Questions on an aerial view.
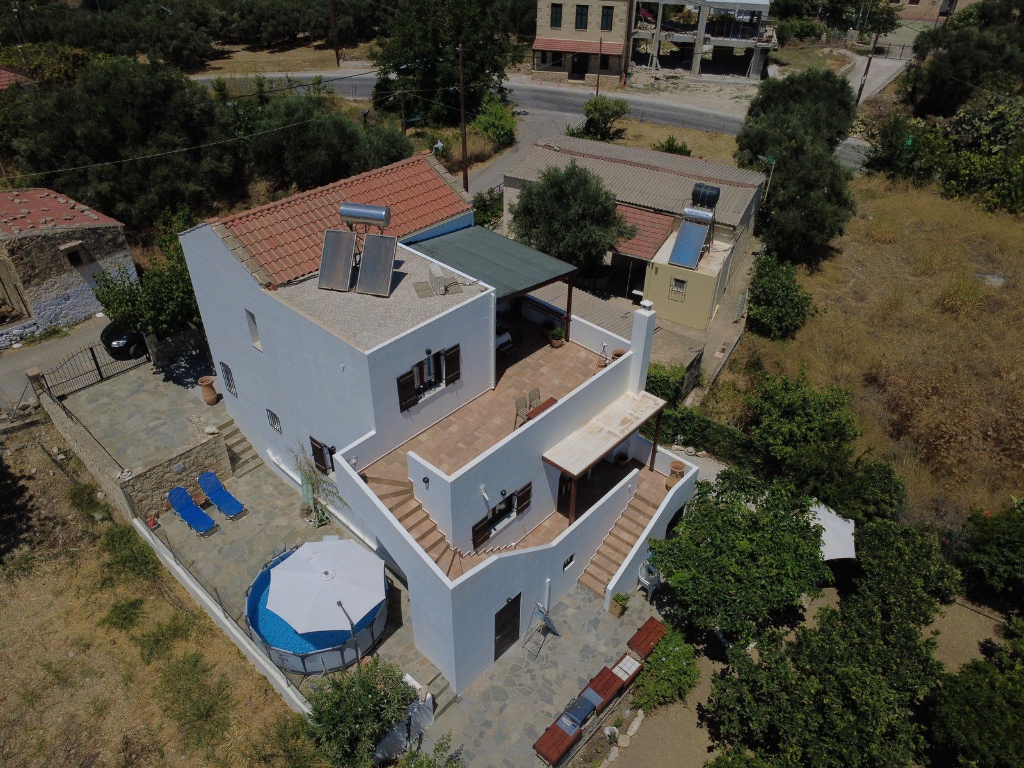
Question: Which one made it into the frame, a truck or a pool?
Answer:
pool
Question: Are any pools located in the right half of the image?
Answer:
No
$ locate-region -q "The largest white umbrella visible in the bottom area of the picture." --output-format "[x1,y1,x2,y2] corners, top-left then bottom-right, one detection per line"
[265,539,386,642]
